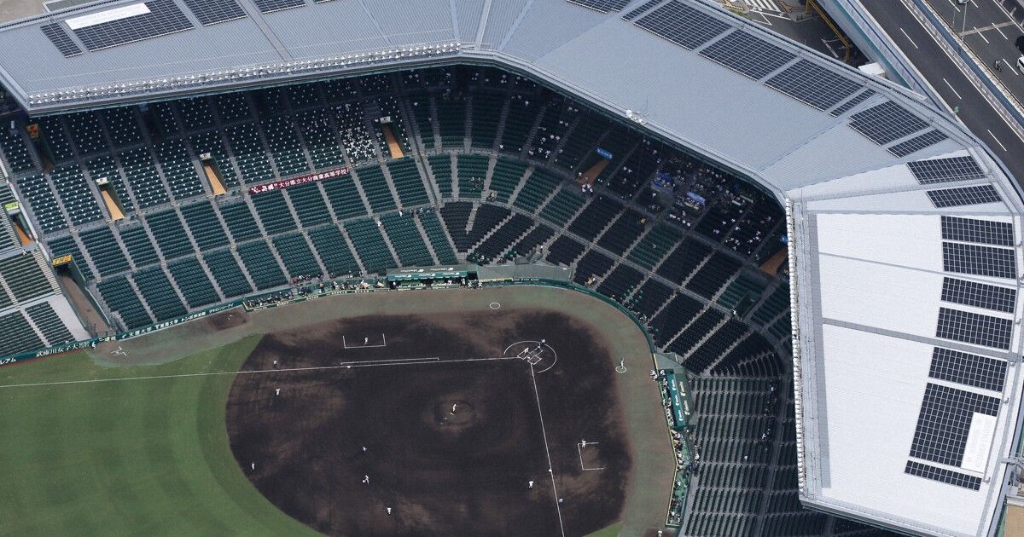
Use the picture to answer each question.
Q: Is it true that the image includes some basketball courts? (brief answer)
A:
No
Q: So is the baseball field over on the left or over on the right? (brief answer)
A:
left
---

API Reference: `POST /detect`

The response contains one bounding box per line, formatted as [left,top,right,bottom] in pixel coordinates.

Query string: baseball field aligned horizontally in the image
[0,281,689,537]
